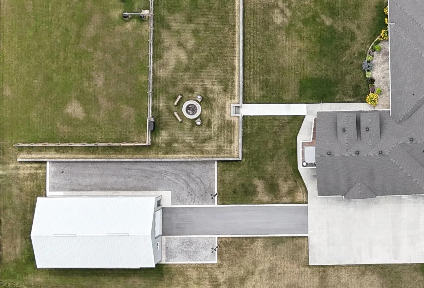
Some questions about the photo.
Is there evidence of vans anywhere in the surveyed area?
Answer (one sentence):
No, there appears to be no van in this shot.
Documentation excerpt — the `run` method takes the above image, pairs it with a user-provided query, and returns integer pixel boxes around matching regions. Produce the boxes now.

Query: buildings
[315,0,424,200]
[33,194,164,270]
